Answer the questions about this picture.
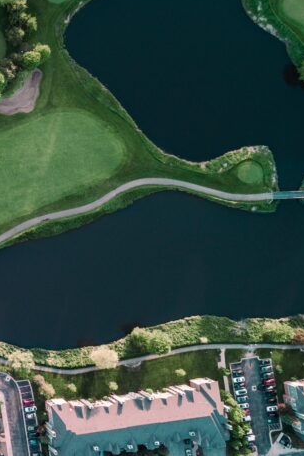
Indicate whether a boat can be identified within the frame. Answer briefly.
No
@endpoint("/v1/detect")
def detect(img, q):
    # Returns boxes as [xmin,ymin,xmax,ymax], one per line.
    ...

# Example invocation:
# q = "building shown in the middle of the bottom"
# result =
[42,367,228,456]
